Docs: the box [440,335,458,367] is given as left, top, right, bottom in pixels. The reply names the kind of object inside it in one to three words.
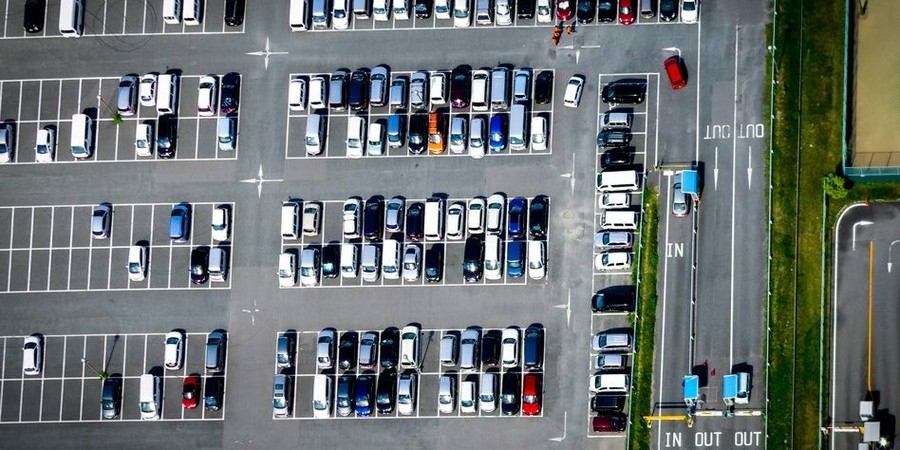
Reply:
vehicle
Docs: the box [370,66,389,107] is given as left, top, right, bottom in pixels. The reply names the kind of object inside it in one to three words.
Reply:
vehicle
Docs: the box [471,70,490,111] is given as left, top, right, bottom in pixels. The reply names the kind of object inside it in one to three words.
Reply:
car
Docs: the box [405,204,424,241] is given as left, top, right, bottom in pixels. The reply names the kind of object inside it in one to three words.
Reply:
car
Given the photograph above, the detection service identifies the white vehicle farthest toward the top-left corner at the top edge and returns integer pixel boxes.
[60,0,83,38]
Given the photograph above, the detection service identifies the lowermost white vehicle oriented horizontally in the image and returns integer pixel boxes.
[590,374,630,393]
